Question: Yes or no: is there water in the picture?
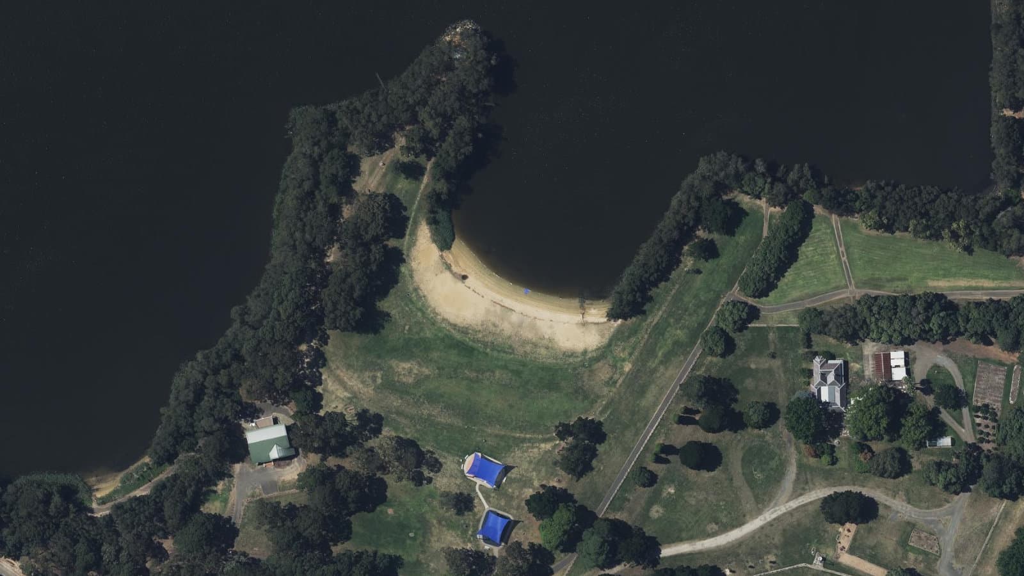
Yes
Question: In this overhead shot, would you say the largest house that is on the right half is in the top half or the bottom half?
bottom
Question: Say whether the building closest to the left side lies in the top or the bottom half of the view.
bottom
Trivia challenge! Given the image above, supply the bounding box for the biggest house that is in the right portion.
[811,356,845,413]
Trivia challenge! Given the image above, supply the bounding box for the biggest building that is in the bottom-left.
[245,419,297,465]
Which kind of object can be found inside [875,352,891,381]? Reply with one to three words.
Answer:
shed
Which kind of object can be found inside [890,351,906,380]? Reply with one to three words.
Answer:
shed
